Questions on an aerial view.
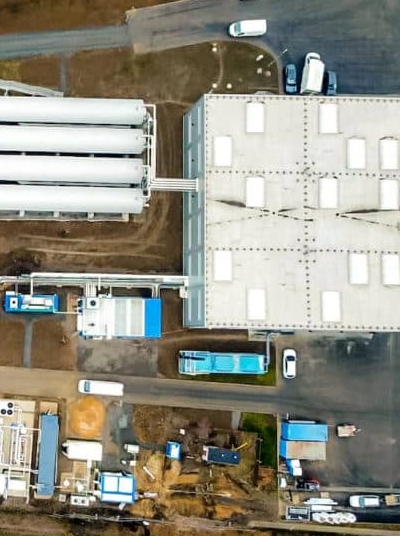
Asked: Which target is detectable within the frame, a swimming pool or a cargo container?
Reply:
cargo container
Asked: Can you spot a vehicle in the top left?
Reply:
No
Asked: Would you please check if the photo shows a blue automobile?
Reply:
Yes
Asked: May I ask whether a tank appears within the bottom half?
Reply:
No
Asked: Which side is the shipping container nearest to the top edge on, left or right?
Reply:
left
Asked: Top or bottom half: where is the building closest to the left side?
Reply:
bottom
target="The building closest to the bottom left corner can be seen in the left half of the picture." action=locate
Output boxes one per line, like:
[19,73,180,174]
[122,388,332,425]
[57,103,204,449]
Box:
[55,460,100,497]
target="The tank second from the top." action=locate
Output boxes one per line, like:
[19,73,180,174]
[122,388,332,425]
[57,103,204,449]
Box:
[0,127,145,156]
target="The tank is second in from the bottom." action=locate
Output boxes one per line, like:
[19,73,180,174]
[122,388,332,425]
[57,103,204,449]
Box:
[0,156,145,185]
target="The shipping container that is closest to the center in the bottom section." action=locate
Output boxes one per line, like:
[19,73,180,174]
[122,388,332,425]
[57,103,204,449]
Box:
[179,350,267,376]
